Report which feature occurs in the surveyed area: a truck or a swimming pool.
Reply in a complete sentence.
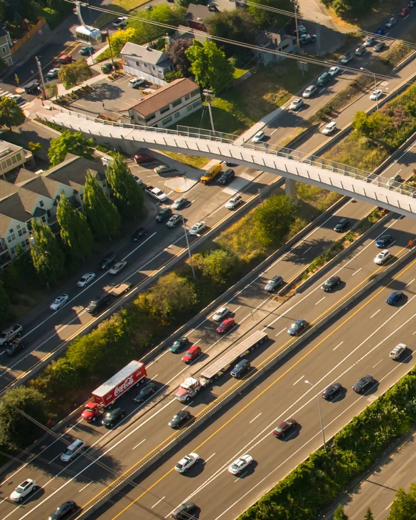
I can see a truck in this picture.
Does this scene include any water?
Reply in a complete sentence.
No, no water is visible.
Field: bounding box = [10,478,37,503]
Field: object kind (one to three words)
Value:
car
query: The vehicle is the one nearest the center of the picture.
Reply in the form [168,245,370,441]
[189,222,205,236]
